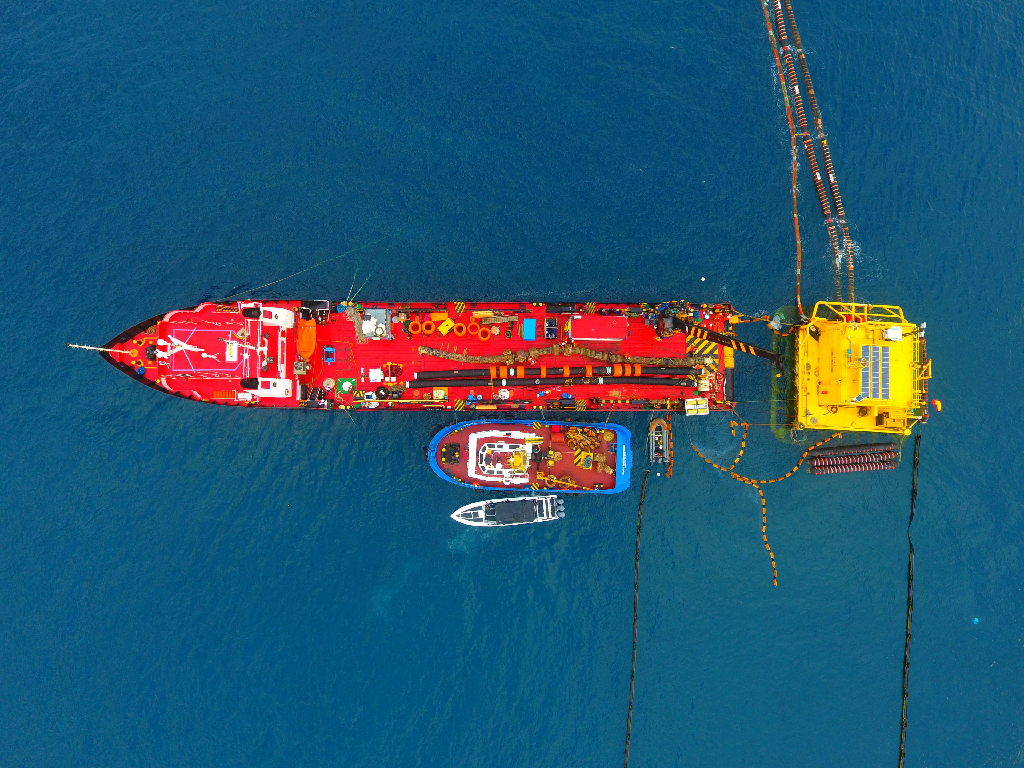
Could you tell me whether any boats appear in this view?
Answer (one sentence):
Yes, a boat can be made out from above.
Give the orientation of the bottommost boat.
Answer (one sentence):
From this overhead view, the bottommost boat appears to run from left to right.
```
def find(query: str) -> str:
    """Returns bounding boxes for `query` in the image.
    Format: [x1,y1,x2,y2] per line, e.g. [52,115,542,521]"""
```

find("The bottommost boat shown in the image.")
[451,495,565,526]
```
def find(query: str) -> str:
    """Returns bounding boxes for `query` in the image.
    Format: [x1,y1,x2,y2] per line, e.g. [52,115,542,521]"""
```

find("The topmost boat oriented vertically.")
[298,319,316,358]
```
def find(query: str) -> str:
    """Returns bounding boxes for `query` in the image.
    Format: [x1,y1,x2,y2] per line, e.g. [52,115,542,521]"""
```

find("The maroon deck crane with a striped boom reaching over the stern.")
[653,299,784,379]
